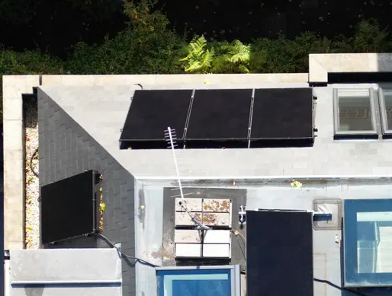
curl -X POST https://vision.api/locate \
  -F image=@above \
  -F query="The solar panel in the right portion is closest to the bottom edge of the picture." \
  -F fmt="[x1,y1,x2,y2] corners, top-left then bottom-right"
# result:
[247,210,312,296]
